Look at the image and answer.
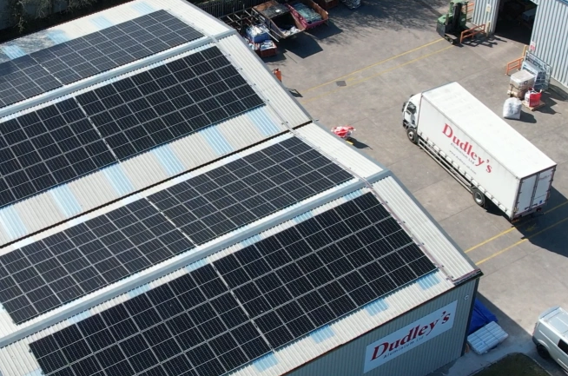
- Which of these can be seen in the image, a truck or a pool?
truck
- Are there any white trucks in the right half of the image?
Yes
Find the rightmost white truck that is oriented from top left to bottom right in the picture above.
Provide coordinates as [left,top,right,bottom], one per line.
[396,81,558,221]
